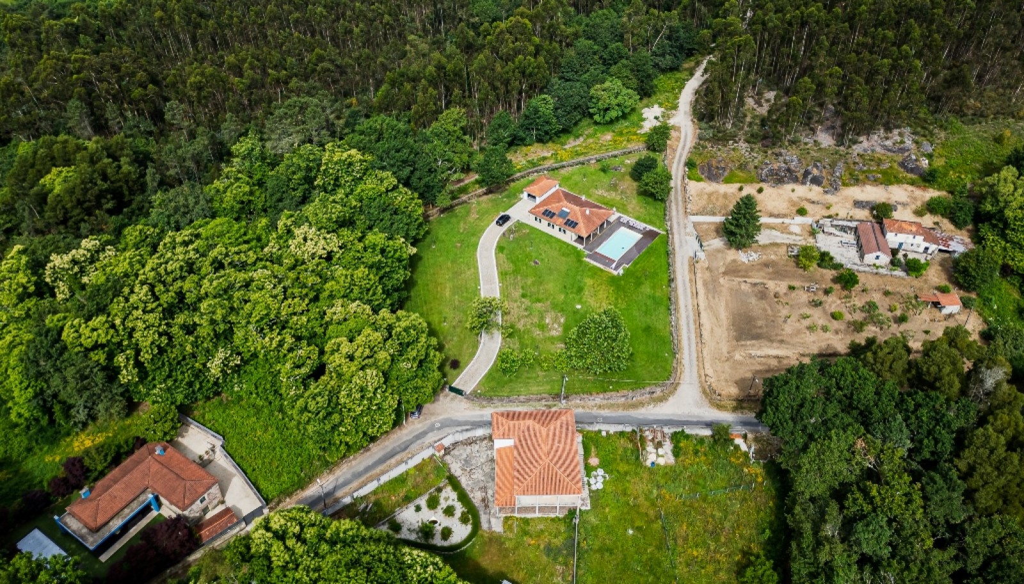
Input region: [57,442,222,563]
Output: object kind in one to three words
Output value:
house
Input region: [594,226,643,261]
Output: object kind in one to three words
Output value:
swimming pool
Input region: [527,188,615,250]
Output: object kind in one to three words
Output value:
house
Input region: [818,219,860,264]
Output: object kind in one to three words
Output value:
shed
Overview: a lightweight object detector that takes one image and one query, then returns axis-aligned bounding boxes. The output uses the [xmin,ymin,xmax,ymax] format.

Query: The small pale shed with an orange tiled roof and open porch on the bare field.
[917,293,962,312]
